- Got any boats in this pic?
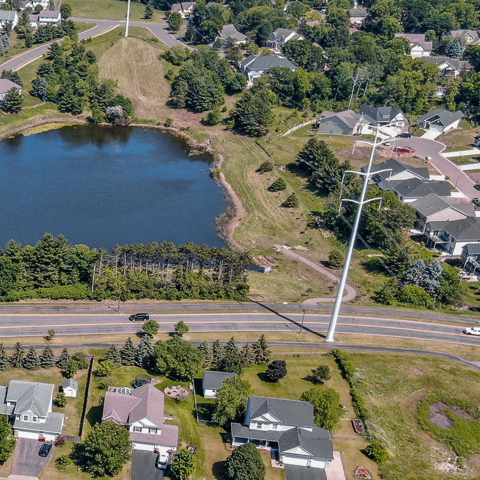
No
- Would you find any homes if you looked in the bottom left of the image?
Yes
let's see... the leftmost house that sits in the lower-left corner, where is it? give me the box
[0,373,66,438]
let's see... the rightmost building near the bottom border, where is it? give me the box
[229,394,336,470]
